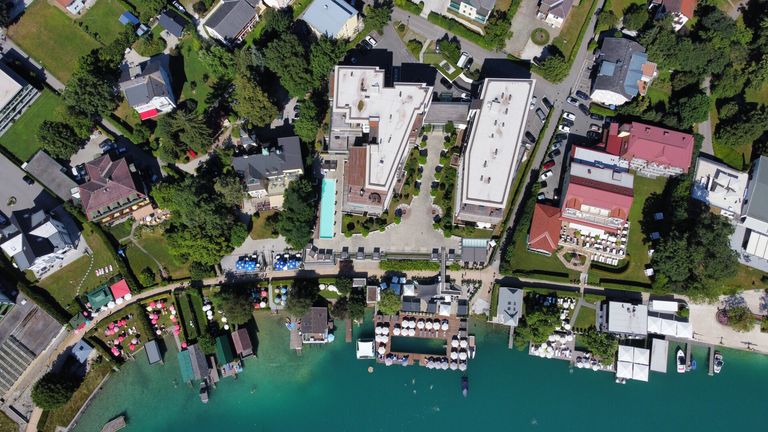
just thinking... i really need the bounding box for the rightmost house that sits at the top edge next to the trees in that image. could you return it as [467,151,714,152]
[645,0,694,31]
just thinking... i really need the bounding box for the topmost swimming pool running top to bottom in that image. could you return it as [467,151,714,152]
[318,177,336,238]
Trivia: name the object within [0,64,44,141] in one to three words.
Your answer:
house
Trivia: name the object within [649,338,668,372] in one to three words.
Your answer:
shed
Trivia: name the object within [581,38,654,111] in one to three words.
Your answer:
house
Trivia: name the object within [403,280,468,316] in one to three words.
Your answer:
building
